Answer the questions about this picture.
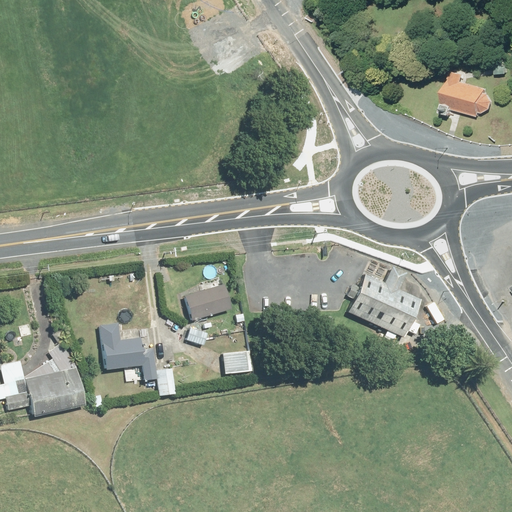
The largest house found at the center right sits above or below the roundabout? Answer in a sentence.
In the image, the largest house found at the center right sits below the roundabout.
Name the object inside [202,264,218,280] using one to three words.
swimming pool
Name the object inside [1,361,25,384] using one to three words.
house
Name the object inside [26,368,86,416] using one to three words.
shed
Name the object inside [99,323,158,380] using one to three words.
house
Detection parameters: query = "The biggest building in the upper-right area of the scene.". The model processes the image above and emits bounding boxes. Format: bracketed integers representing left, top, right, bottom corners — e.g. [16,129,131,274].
[435,72,491,118]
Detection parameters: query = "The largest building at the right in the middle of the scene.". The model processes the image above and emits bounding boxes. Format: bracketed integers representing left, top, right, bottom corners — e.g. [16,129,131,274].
[346,268,422,336]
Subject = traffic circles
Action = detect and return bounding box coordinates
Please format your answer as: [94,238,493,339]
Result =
[352,160,442,230]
